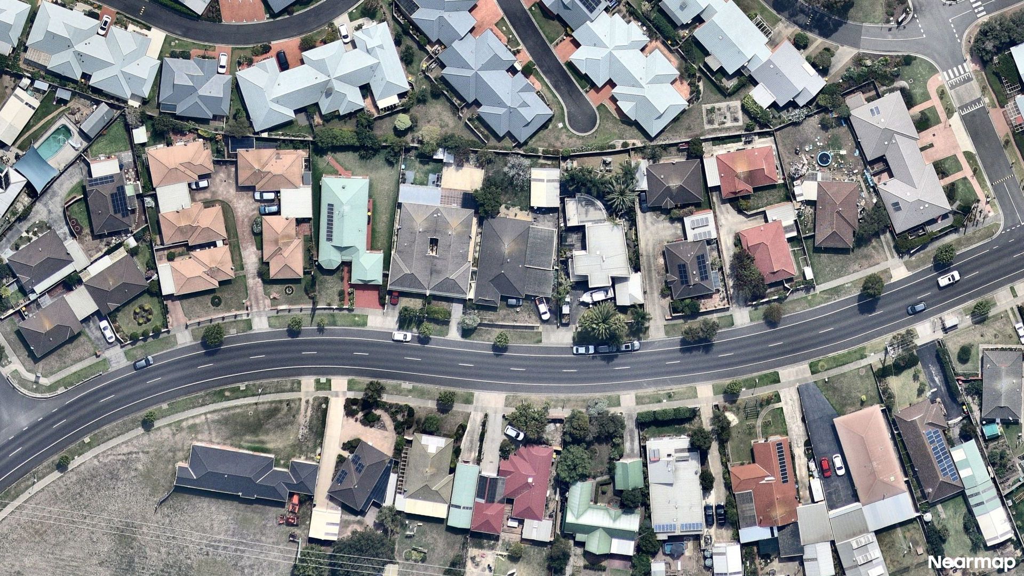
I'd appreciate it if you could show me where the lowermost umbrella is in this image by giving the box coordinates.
[671,544,684,557]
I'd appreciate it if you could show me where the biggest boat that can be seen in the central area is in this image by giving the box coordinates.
[580,288,613,301]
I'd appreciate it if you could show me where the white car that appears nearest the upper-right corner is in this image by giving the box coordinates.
[937,270,961,287]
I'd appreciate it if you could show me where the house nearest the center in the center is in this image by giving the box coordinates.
[473,218,556,307]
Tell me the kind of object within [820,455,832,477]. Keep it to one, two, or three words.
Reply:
vehicle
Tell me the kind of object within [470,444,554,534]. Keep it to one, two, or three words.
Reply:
house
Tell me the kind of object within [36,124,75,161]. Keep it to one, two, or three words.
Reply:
swimming pool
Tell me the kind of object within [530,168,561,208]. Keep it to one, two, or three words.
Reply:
building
